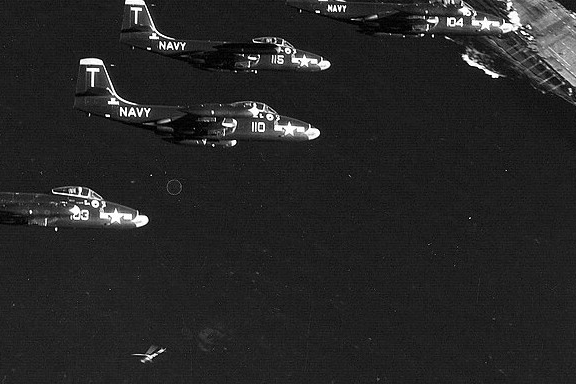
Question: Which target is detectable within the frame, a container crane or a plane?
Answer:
plane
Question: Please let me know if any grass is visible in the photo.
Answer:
No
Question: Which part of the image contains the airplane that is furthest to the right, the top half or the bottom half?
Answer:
top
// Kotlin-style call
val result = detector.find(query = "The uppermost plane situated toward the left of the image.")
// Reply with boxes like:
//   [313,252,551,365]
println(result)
[119,0,331,74]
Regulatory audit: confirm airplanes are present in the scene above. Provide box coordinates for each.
[287,0,515,40]
[119,0,331,74]
[73,58,319,148]
[0,186,149,231]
